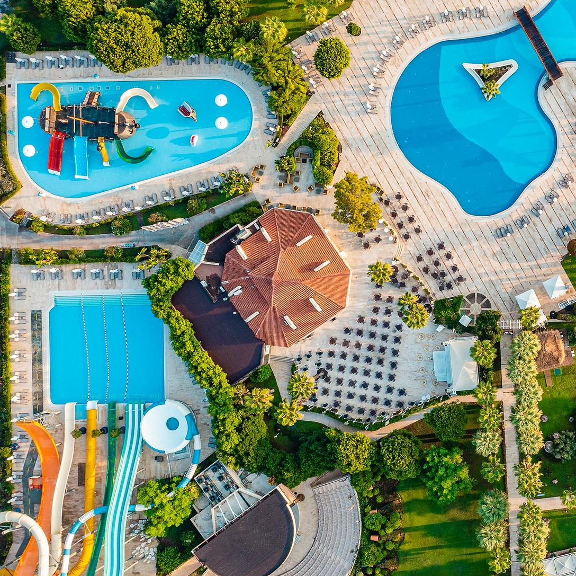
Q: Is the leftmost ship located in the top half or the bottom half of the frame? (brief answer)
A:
top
